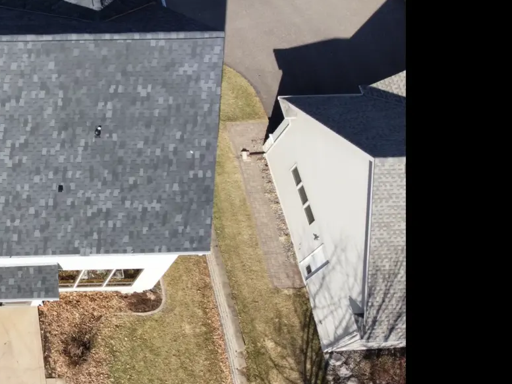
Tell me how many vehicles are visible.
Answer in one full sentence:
The picture shows no vehicles.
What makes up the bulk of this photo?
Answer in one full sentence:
Most of the picture is covered by buildings.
